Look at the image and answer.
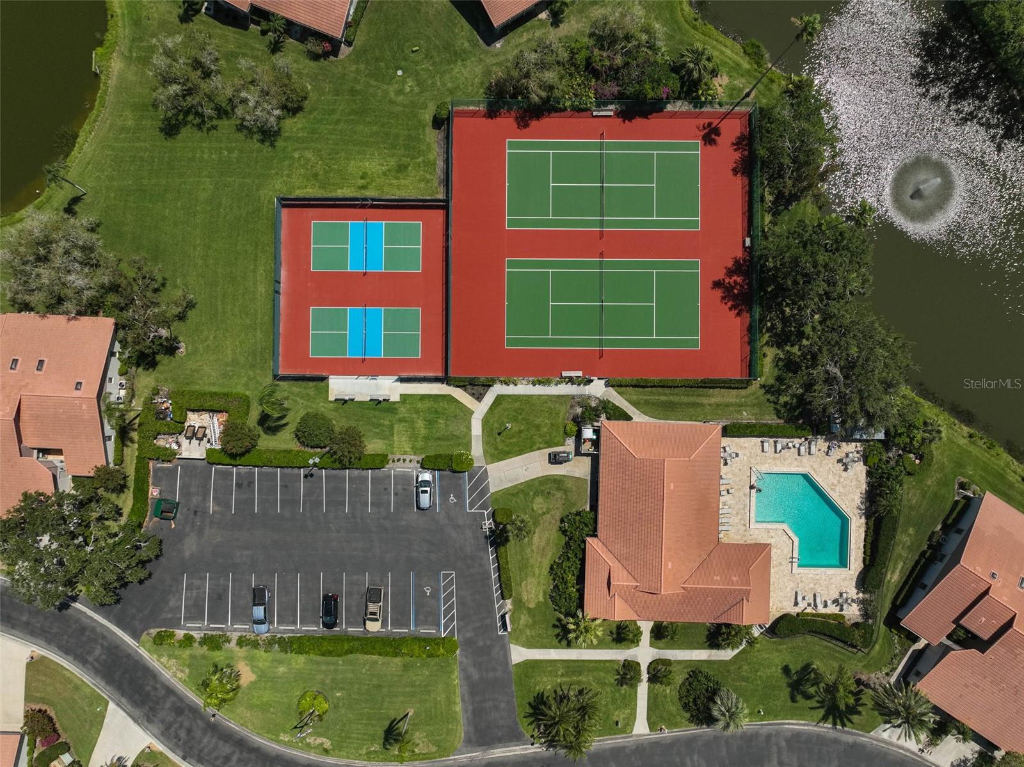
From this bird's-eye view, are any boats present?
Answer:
No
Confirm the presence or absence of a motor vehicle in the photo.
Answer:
Yes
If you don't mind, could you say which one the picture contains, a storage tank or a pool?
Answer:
pool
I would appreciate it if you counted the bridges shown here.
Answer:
0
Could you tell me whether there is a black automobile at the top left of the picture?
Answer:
No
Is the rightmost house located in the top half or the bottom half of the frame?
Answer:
bottom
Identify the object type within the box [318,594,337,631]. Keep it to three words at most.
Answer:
car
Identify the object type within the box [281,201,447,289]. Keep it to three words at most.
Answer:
sports court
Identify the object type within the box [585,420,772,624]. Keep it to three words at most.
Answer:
house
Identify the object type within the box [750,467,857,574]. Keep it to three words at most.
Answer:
swimming pool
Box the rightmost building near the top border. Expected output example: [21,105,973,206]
[468,0,564,39]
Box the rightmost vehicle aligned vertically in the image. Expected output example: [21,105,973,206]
[413,472,432,511]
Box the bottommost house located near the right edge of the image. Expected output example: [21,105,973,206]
[895,491,1024,764]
